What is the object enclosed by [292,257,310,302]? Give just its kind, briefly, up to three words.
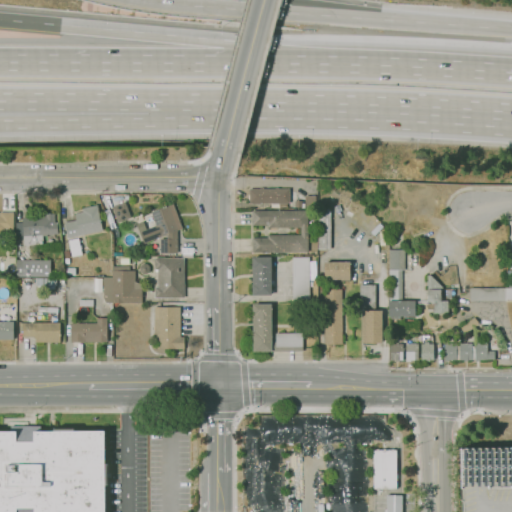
building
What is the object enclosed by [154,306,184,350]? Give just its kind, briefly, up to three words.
building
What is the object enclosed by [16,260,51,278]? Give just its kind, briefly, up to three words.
house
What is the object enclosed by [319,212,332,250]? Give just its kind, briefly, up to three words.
shed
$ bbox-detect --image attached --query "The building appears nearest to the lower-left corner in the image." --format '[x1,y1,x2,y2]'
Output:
[0,426,106,512]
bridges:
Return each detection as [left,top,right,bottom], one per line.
[210,0,282,193]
